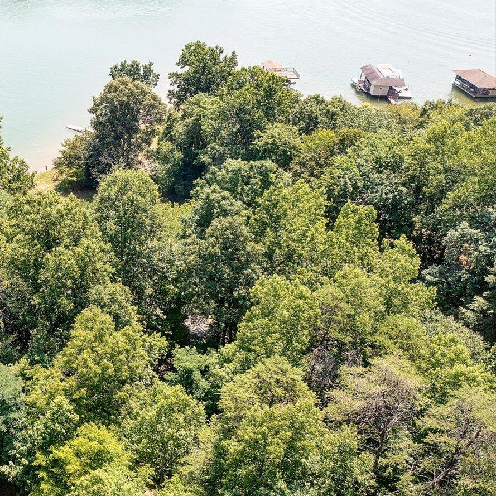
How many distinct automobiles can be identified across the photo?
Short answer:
0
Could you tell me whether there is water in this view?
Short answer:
Yes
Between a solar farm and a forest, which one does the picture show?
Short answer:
forest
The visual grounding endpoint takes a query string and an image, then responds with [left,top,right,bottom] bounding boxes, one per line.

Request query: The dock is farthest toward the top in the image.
[242,57,301,89]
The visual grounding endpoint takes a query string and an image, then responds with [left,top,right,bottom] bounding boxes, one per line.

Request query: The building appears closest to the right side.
[450,65,496,100]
